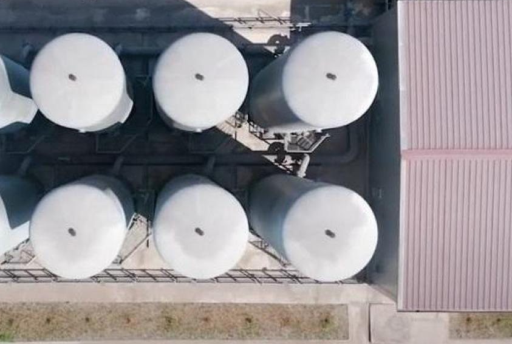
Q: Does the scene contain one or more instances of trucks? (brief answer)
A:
No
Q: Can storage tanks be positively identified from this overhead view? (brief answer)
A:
Yes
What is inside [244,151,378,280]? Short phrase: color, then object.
white storage tank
